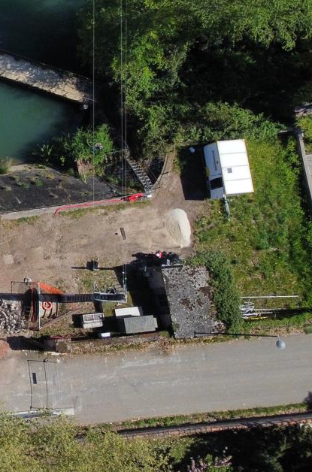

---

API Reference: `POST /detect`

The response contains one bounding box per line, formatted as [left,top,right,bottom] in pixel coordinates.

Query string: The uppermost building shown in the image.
[141,263,224,339]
